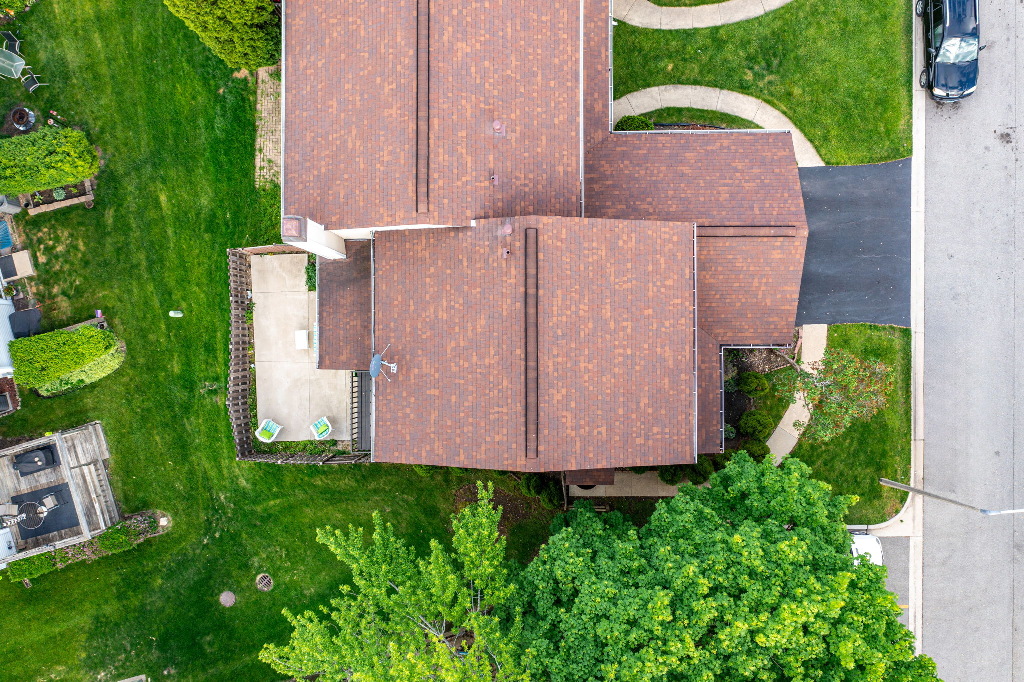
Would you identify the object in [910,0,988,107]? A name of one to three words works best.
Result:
car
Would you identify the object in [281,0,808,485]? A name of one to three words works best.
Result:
house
